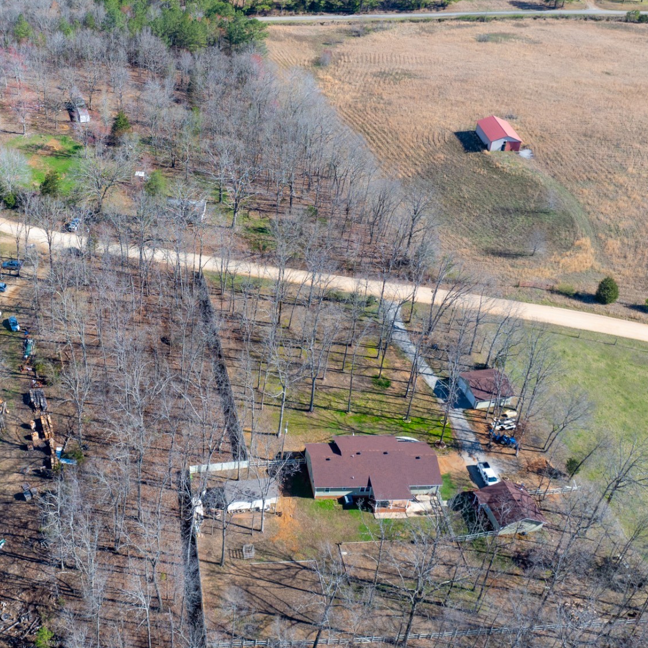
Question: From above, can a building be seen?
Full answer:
Yes, there's a building here.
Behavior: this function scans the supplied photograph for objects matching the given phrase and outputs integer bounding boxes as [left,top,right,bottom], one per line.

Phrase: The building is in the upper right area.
[472,116,523,151]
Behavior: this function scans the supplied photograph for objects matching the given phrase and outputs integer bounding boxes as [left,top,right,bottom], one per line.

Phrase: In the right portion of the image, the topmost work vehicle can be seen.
[483,426,514,445]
